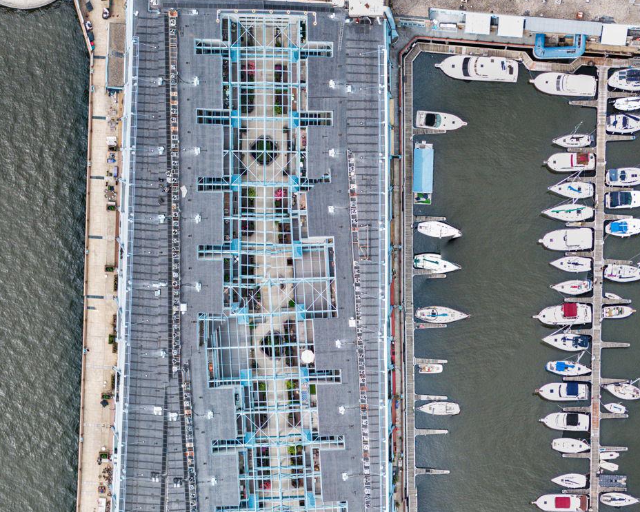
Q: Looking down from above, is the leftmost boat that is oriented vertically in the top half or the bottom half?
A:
top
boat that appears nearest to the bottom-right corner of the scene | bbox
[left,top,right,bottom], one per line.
[602,492,640,508]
